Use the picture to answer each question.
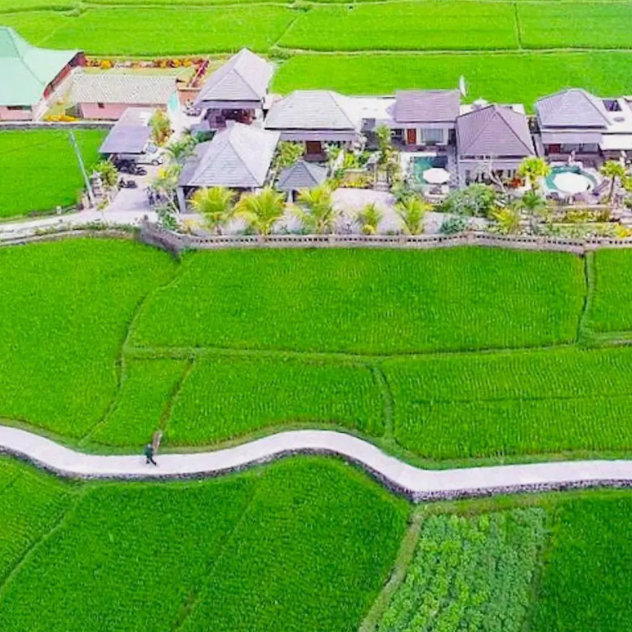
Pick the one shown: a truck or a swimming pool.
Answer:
swimming pool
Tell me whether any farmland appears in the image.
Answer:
Yes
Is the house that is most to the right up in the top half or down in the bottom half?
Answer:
top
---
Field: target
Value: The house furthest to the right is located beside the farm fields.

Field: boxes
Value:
[535,90,632,171]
